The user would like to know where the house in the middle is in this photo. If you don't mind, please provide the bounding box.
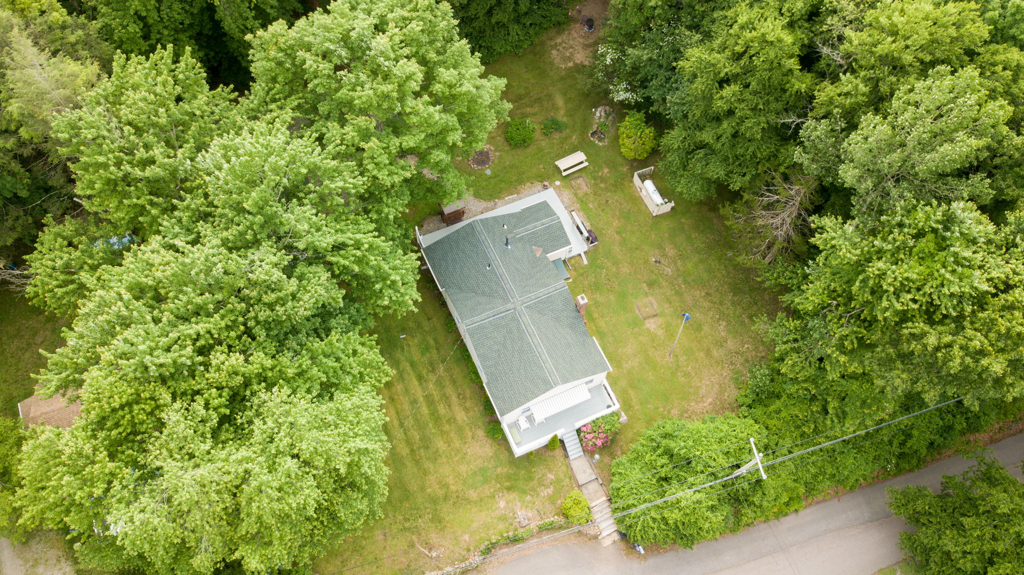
[419,188,619,462]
